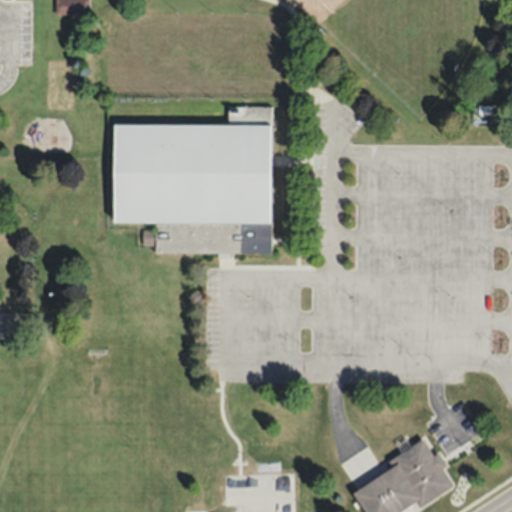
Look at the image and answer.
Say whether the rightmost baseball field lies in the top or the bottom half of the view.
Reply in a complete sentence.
You can find the rightmost baseball field in the top half.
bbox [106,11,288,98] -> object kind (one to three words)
sports field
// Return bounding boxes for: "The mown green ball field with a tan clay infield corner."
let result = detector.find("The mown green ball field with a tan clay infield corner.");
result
[300,0,478,119]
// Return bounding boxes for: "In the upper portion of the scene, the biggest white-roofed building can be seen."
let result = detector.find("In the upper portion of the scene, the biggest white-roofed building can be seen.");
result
[113,108,273,254]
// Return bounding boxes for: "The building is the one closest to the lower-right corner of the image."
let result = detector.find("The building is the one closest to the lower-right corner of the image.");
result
[355,439,458,512]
